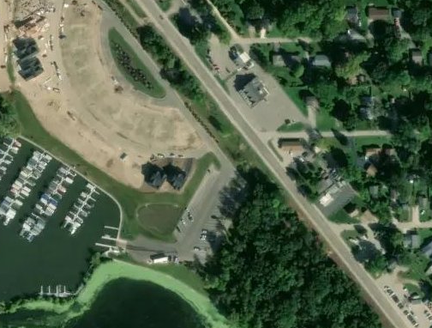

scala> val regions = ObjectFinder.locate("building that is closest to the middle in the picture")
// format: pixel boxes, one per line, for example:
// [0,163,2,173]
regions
[166,165,189,188]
